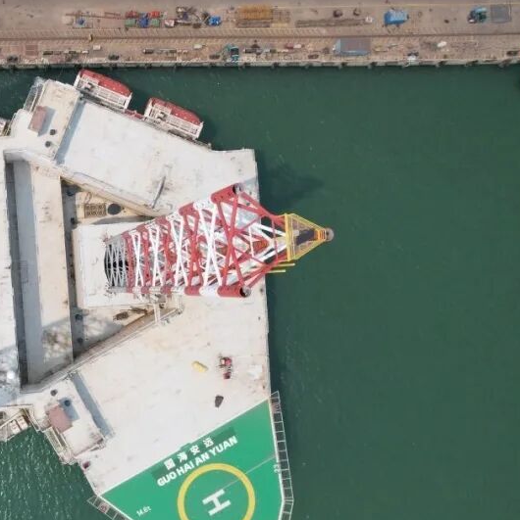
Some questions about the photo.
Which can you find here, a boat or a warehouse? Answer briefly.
boat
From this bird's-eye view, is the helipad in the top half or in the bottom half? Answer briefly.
bottom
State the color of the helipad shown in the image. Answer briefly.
green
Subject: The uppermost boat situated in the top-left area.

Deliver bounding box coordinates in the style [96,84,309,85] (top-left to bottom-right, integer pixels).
[72,66,134,111]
